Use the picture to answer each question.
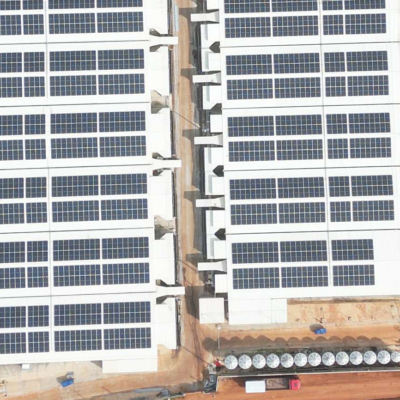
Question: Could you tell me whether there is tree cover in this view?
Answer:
No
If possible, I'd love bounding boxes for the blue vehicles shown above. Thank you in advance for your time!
[315,327,329,336]
[61,378,77,388]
